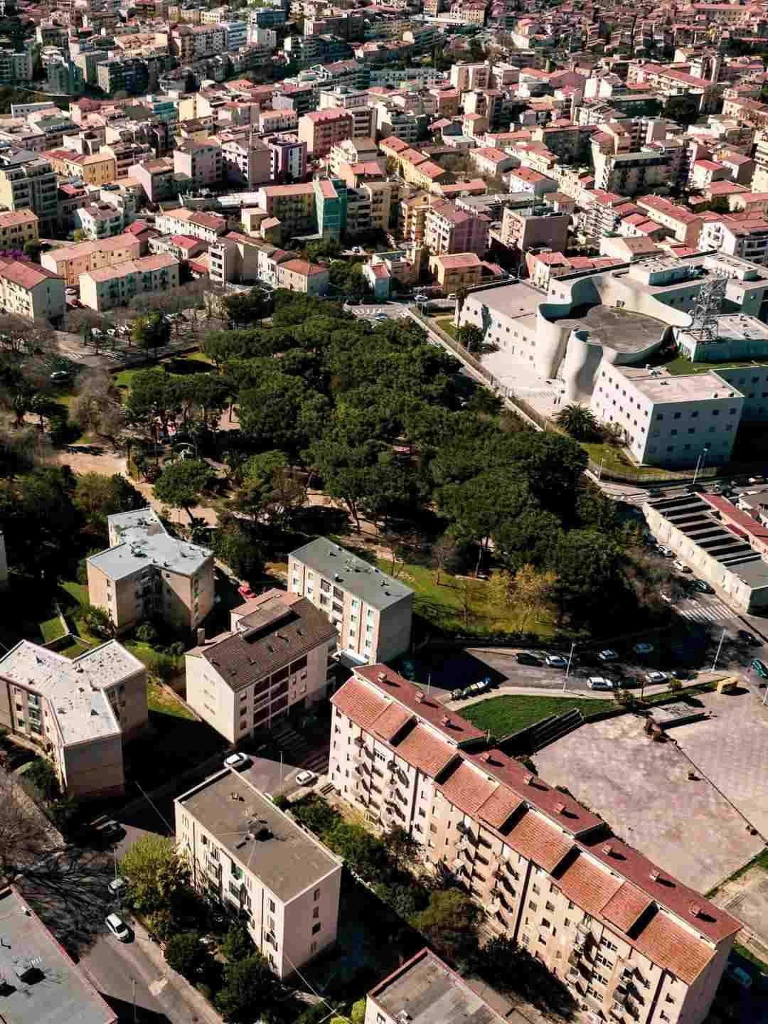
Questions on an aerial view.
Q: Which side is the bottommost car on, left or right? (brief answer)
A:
right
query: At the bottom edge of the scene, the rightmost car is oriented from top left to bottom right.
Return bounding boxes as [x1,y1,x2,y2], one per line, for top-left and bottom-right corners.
[728,958,758,990]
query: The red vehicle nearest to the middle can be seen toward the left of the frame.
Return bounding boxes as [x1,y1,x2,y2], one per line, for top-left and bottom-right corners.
[231,582,250,596]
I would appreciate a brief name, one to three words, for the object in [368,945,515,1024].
house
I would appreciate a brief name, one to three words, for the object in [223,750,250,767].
car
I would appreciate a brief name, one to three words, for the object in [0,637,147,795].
building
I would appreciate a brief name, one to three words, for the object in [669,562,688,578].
car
